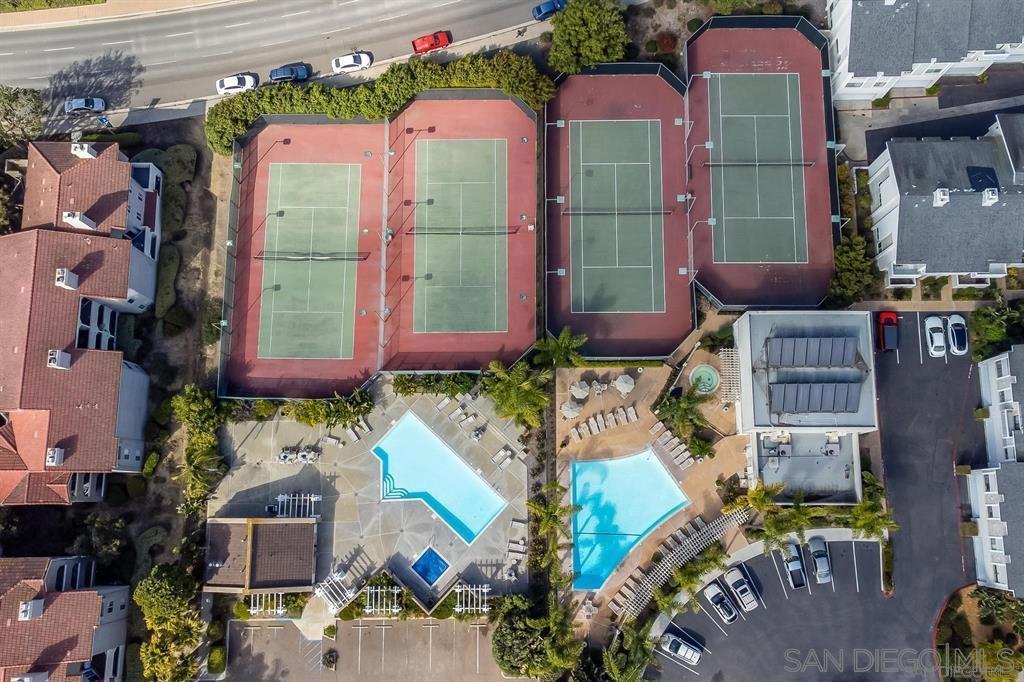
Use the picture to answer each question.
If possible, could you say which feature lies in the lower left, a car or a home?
home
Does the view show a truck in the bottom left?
No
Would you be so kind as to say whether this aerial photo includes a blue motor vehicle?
Yes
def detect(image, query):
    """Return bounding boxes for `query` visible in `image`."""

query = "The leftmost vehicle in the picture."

[64,96,107,115]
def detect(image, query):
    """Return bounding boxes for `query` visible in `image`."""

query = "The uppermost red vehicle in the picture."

[410,30,452,55]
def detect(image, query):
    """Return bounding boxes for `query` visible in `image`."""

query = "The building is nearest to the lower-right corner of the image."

[965,464,1024,599]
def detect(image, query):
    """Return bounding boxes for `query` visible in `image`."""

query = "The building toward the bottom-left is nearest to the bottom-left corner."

[0,553,131,682]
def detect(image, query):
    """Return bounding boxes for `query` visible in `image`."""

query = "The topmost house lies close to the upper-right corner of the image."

[827,0,1024,103]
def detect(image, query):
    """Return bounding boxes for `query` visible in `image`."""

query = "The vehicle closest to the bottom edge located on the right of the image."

[660,631,702,669]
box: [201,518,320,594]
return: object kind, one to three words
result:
building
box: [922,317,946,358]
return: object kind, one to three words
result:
car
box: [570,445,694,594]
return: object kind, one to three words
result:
swimming pool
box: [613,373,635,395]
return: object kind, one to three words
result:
umbrella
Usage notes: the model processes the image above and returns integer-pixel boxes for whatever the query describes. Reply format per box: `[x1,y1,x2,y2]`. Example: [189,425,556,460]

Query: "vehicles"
[660,631,702,669]
[807,538,832,585]
[922,317,946,358]
[529,0,569,22]
[410,30,452,55]
[269,62,310,85]
[703,582,739,626]
[331,52,372,75]
[781,542,809,589]
[945,315,968,356]
[64,96,107,115]
[215,72,258,94]
[725,567,759,612]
